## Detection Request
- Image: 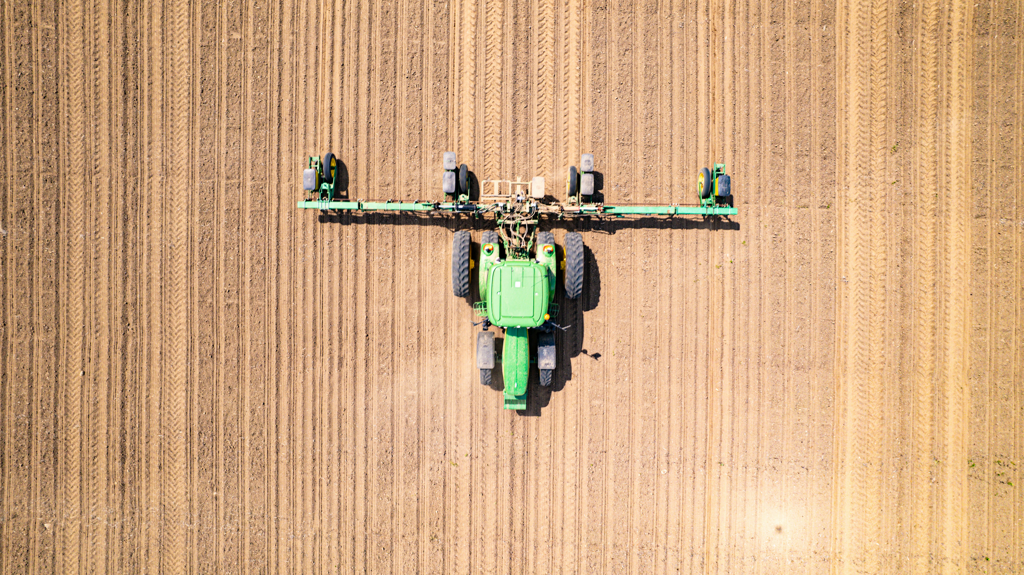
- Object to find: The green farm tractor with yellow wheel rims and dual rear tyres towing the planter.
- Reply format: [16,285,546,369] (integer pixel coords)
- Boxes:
[452,220,583,410]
